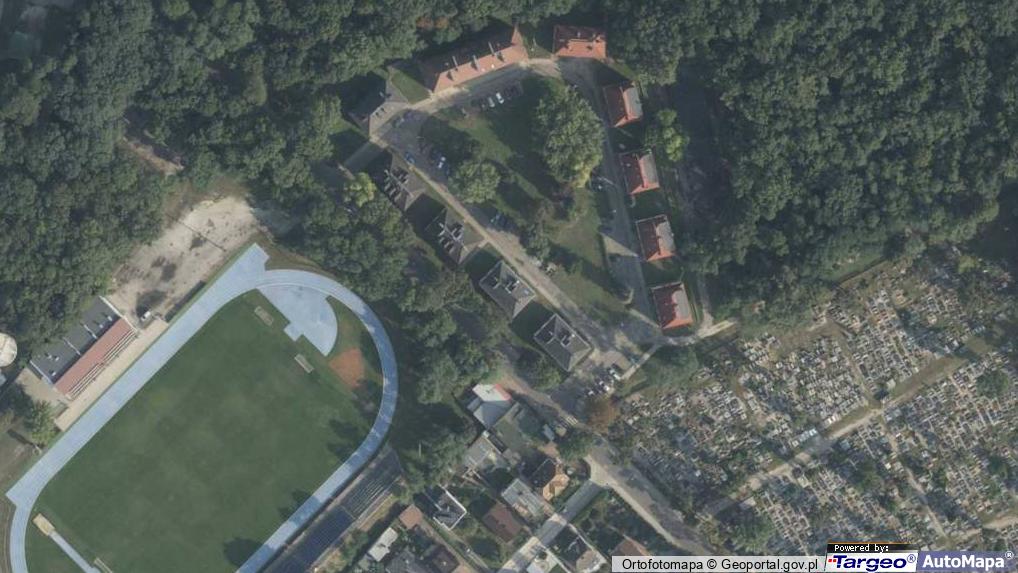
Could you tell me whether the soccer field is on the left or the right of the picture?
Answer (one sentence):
You can find the soccer field on the left side of the picture.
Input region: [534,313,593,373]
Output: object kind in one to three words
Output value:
house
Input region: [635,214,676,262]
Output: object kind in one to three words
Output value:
house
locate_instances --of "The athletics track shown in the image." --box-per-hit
[5,244,400,573]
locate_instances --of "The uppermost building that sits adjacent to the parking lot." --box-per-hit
[424,30,529,91]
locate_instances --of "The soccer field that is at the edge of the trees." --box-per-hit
[27,286,383,573]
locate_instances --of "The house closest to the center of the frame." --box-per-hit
[479,260,536,318]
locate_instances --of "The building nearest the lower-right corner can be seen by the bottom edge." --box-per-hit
[607,537,654,573]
